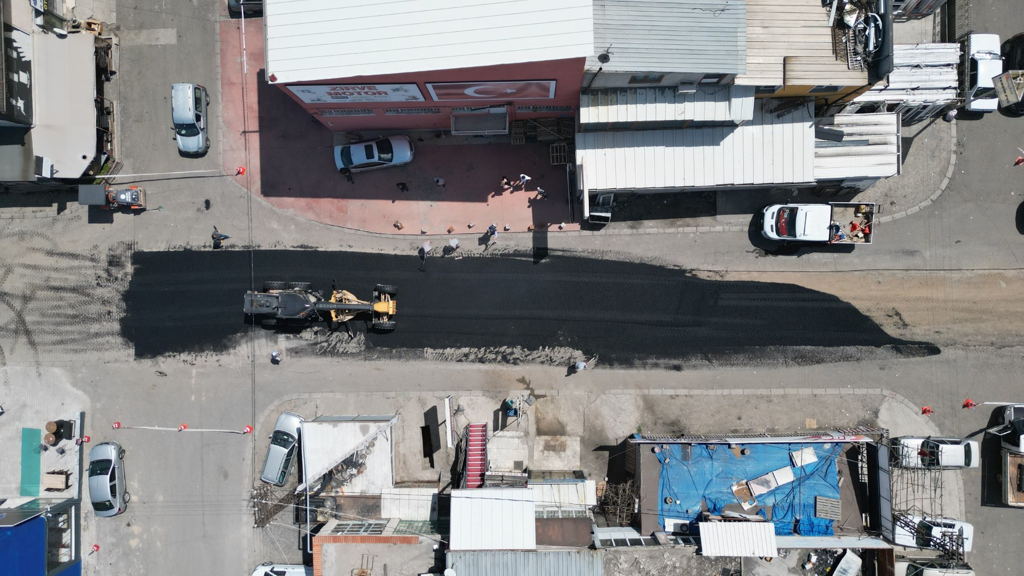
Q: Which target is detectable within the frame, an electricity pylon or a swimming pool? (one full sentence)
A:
The one in the frame is an electricity pylon.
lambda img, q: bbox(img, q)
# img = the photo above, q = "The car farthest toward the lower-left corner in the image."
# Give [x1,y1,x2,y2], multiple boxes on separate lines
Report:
[87,439,133,517]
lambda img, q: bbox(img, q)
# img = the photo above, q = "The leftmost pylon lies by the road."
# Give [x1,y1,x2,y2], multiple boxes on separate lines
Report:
[255,477,312,530]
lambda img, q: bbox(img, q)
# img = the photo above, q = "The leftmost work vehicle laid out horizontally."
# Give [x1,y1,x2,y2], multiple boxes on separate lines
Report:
[78,185,149,210]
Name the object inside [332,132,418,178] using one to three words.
car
